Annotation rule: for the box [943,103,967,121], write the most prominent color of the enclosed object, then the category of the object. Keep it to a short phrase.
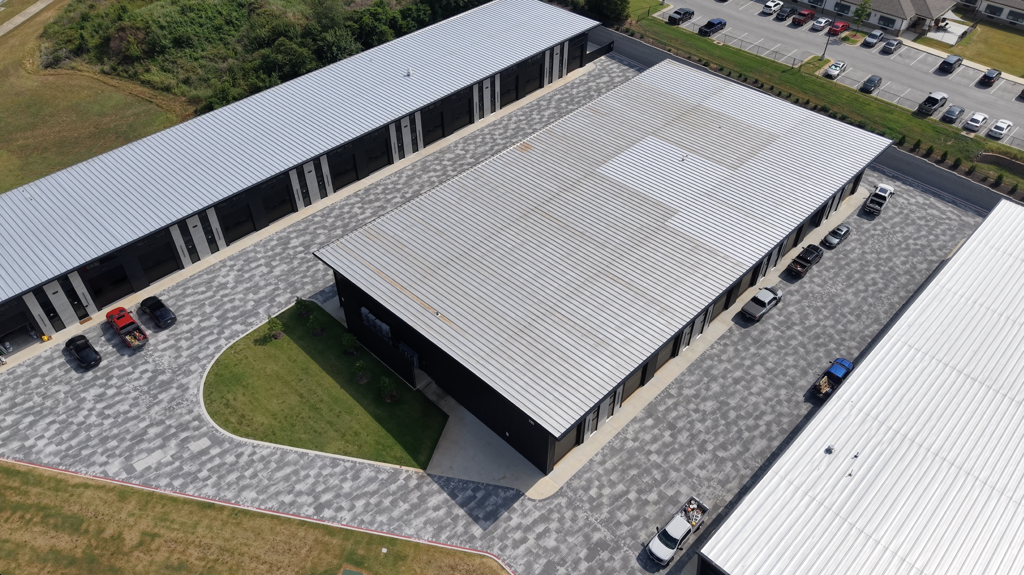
gray car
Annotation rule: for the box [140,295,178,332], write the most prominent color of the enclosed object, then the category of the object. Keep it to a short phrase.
black car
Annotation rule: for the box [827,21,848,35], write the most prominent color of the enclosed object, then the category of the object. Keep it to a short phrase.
red car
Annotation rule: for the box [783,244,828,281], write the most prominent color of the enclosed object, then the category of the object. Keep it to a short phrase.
black truck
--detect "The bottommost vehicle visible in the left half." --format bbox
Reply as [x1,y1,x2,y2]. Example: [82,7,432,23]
[64,332,103,373]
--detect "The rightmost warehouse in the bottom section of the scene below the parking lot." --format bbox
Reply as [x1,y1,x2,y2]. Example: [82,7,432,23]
[689,198,1024,575]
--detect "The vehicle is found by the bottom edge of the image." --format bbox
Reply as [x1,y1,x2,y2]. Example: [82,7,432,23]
[643,492,712,571]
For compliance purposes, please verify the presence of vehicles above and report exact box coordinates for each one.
[915,89,950,114]
[790,7,818,26]
[820,224,854,251]
[812,17,833,31]
[762,0,785,14]
[783,244,828,281]
[989,119,1014,138]
[966,111,991,130]
[938,53,964,73]
[806,355,854,402]
[943,103,967,121]
[775,2,803,21]
[823,60,847,77]
[643,492,712,571]
[64,332,103,373]
[827,21,848,35]
[101,302,148,353]
[864,183,896,216]
[862,73,887,91]
[669,4,699,23]
[738,283,791,328]
[979,67,1004,86]
[140,295,178,332]
[700,15,730,34]
[881,39,903,54]
[862,29,885,48]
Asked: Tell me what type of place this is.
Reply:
industrial area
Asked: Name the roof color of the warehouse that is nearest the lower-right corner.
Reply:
white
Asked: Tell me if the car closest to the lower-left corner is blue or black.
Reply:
black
